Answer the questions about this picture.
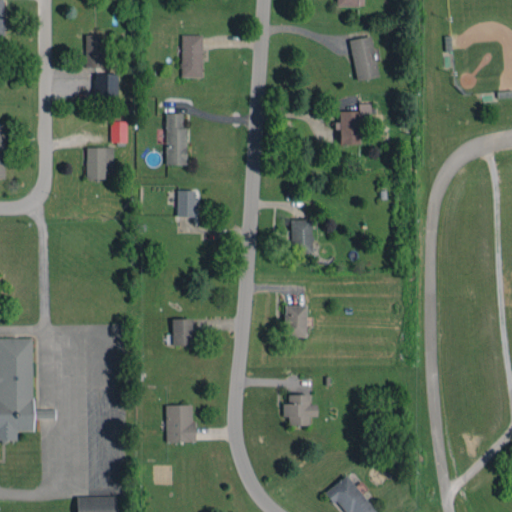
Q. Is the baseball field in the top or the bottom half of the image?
top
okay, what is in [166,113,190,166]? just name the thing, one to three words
house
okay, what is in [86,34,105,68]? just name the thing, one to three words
house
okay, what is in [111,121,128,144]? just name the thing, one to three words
shed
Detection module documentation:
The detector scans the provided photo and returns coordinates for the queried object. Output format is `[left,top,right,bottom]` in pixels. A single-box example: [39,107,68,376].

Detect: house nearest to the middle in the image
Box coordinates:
[291,220,314,255]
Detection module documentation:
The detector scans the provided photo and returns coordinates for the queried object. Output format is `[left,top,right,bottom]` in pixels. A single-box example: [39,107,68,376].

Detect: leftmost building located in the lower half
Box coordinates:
[0,339,58,444]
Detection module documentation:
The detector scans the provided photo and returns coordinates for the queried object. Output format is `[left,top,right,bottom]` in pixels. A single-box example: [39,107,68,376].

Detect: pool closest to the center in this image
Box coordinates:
[146,150,162,168]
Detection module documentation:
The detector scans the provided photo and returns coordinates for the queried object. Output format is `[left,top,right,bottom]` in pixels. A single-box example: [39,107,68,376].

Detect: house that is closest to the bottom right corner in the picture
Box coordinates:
[328,480,380,512]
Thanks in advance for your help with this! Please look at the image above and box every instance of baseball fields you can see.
[452,0,512,94]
